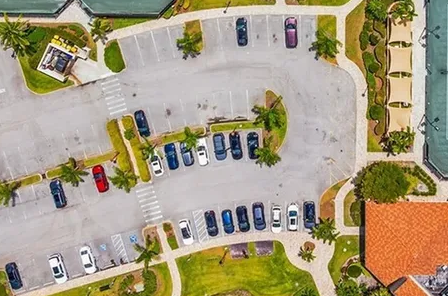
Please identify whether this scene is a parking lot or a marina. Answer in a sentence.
The picture captures a parking lot.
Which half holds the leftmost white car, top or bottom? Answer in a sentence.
It is in the bottom half that the leftmost white car appears.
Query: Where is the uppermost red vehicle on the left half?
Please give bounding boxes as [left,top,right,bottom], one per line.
[93,163,109,192]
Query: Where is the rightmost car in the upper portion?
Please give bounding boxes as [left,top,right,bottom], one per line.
[285,18,298,47]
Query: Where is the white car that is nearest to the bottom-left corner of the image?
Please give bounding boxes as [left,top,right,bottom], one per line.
[48,253,68,283]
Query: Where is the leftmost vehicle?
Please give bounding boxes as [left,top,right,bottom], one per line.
[5,260,24,291]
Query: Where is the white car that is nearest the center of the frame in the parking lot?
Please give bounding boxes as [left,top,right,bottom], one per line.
[195,136,210,165]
